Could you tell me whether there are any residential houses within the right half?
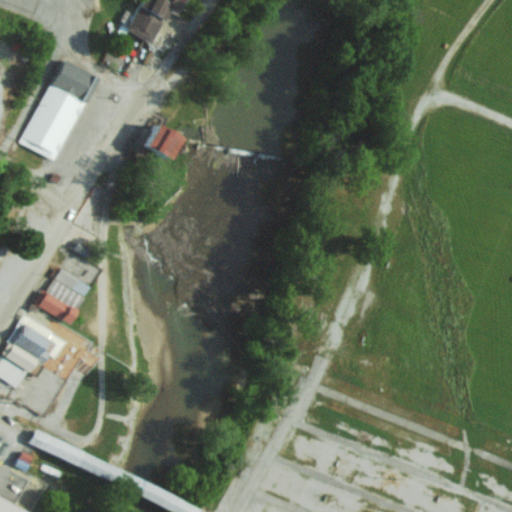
No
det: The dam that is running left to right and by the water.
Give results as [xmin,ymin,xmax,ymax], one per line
[202,147,294,163]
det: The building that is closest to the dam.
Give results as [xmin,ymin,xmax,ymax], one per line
[144,124,186,163]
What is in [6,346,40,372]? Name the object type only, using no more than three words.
building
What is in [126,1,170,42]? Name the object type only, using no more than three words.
house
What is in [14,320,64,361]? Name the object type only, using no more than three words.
building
